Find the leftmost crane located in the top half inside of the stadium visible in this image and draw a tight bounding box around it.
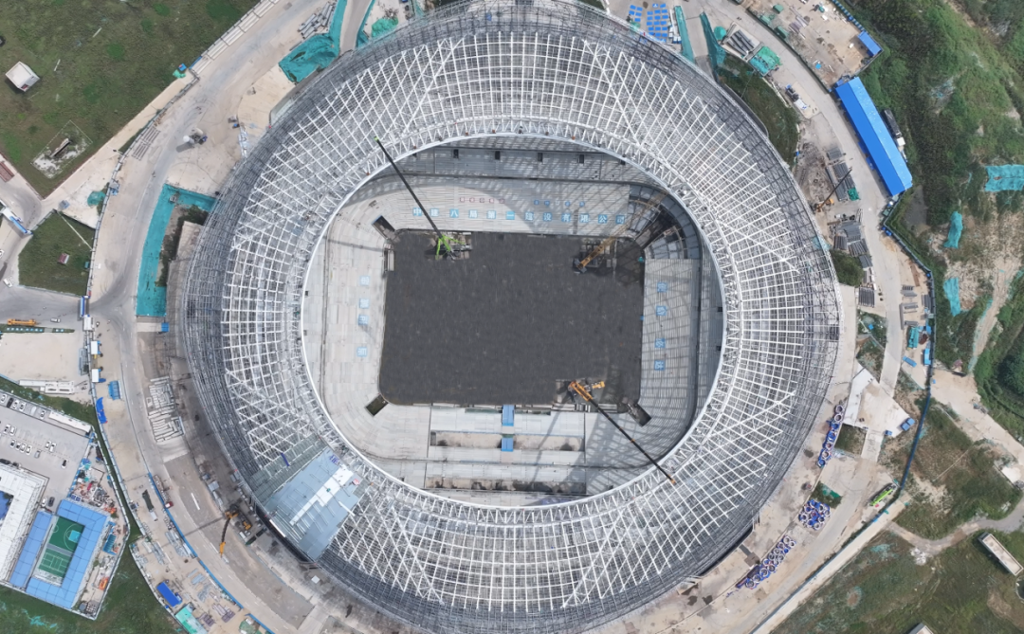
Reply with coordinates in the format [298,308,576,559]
[376,139,470,262]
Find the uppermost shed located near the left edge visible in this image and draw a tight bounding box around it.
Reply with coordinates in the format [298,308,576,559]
[7,62,42,95]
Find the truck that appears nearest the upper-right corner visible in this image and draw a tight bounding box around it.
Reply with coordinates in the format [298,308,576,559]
[884,109,906,145]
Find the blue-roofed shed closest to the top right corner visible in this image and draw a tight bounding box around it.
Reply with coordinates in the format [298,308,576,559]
[855,31,881,58]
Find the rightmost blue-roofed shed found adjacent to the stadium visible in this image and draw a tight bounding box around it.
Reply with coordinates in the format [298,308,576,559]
[830,73,914,200]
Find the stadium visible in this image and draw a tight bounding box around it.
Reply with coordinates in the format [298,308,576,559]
[178,0,849,634]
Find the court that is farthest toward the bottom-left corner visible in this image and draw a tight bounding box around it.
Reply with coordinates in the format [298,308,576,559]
[39,549,72,579]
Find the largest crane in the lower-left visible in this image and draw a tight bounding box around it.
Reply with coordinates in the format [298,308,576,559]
[217,506,253,559]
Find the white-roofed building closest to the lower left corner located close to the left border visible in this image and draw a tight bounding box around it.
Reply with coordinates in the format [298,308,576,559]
[0,455,56,580]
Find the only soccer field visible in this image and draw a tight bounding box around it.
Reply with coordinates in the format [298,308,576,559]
[380,227,646,411]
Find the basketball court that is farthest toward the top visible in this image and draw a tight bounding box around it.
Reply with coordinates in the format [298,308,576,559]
[49,517,83,552]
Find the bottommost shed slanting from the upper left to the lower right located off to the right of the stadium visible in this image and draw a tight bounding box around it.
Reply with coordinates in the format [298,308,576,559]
[977,531,1023,575]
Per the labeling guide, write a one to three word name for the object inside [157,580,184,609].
shed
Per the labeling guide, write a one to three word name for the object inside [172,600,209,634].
shed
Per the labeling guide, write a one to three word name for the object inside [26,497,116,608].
building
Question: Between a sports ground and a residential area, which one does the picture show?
sports ground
